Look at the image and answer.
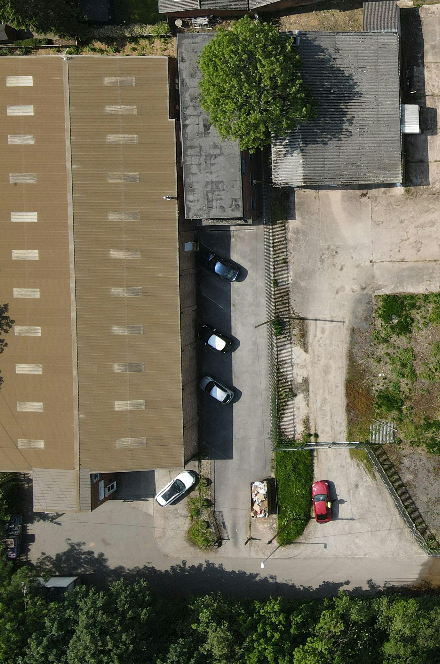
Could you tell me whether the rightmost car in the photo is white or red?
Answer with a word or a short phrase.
red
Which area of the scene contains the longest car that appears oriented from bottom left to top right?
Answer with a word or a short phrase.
bottom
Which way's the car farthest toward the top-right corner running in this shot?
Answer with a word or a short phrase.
at an angle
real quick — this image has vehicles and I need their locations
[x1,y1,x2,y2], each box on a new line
[309,480,334,523]
[197,323,235,357]
[198,372,239,408]
[152,468,198,510]
[202,249,245,287]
